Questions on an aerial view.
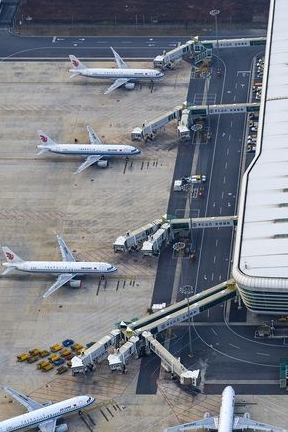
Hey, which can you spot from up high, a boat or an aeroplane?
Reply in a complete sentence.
The image shows an aeroplane.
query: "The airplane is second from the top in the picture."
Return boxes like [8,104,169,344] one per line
[36,124,139,174]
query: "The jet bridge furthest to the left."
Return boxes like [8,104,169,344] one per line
[67,329,122,376]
